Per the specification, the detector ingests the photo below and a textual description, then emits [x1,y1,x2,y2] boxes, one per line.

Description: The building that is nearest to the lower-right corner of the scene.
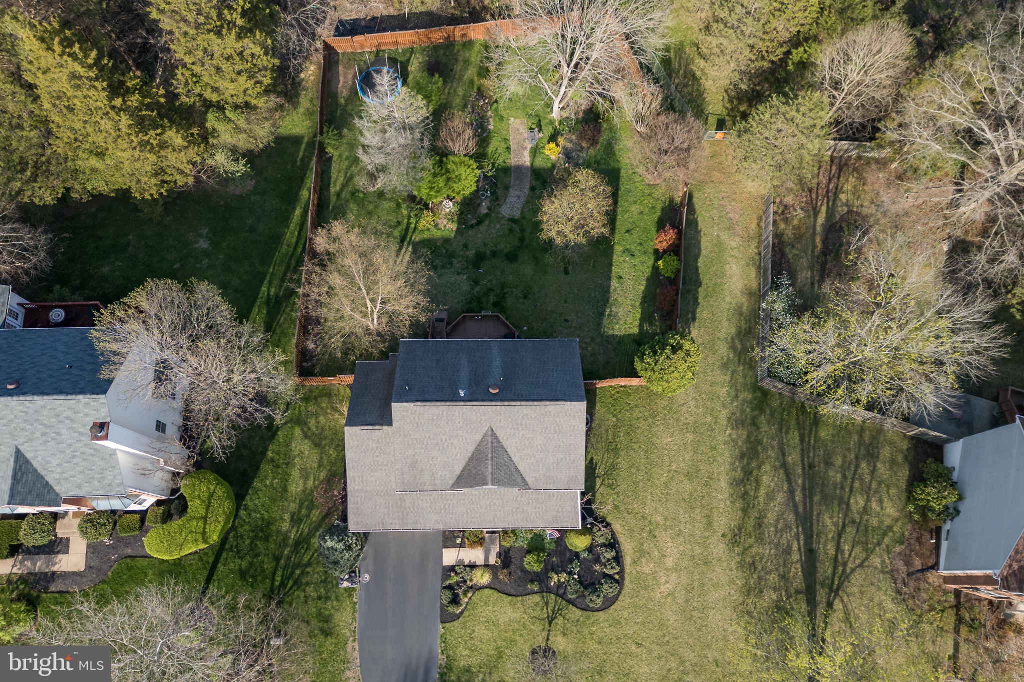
[929,414,1024,589]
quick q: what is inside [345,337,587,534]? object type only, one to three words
house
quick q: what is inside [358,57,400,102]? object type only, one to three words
trampoline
